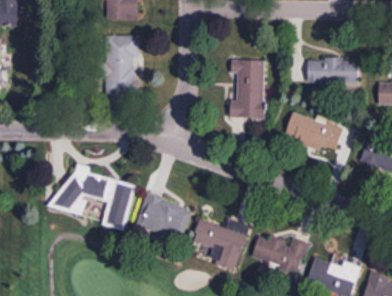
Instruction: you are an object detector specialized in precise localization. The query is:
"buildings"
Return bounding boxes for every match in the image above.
[0,0,17,26]
[46,164,136,231]
[286,114,343,154]
[360,146,392,175]
[136,193,192,237]
[107,0,138,20]
[254,235,308,277]
[364,270,392,296]
[378,82,392,106]
[104,37,140,94]
[310,260,362,296]
[307,58,358,83]
[194,217,250,276]
[230,60,266,118]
